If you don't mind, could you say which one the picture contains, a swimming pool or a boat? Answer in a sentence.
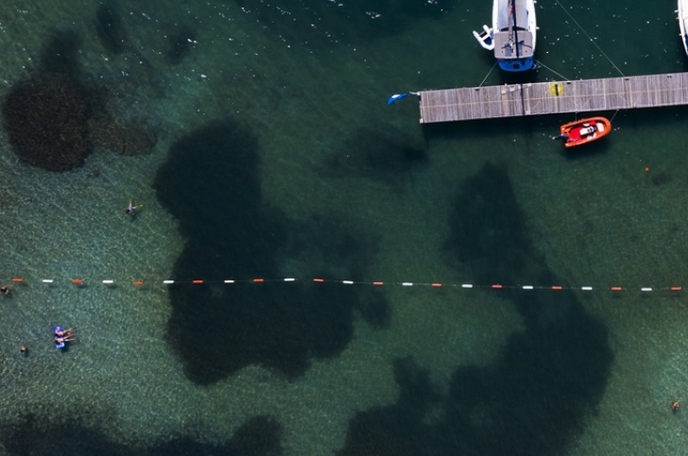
Looking from above, you can make out a boat.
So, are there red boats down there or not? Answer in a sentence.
Yes, looking at the shot, I can spot a red boat.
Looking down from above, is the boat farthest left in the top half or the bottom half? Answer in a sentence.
Seen from above, the boat farthest left lies in the top half of the view.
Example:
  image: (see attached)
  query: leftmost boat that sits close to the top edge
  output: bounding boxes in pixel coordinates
[472,22,493,50]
